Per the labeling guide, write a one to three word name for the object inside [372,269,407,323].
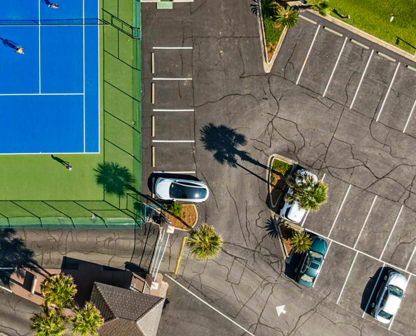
car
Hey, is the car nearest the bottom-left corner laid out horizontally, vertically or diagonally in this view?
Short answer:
horizontally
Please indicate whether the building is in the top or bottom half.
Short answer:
bottom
